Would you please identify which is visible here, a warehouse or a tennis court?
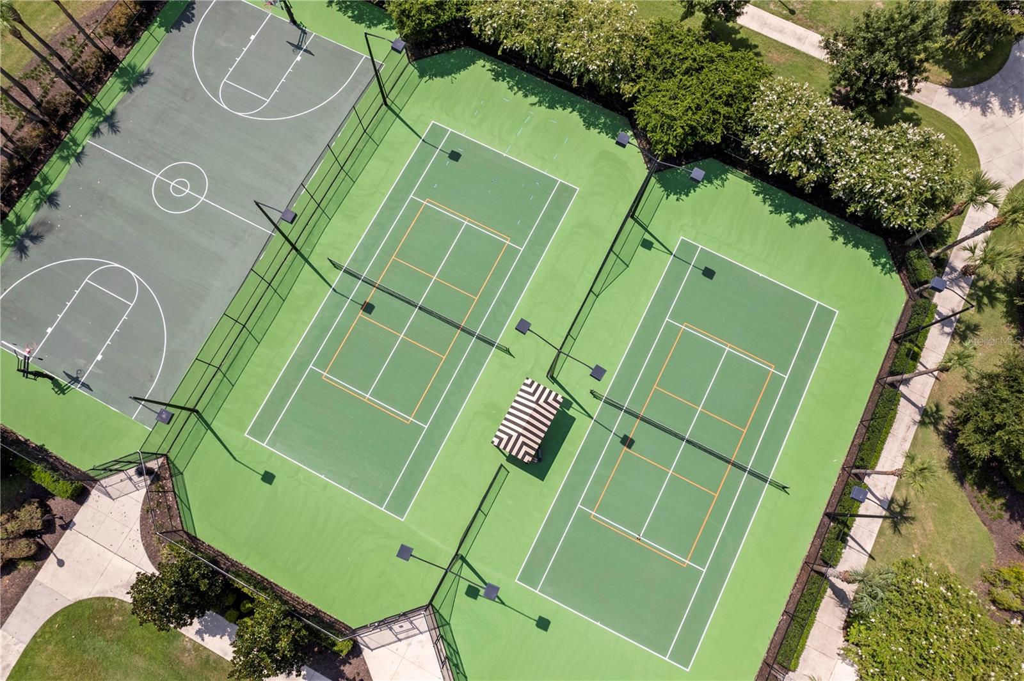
tennis court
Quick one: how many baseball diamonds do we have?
0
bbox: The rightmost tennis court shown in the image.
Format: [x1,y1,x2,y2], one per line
[433,158,909,681]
